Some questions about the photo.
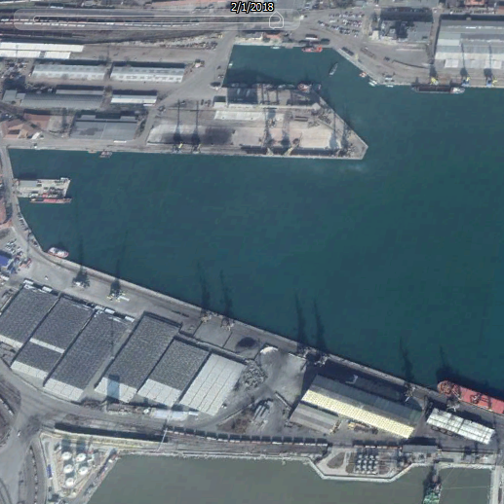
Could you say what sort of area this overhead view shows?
port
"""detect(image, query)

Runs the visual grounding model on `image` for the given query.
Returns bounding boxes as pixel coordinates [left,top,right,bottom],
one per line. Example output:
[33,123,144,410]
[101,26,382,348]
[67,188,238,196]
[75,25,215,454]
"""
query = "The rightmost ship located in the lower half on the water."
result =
[438,381,504,414]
